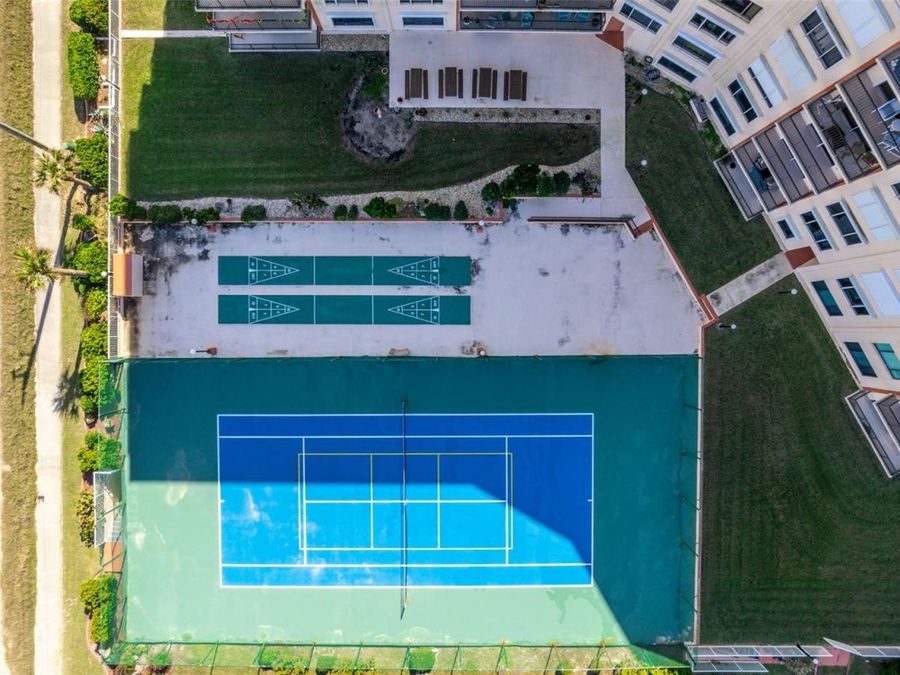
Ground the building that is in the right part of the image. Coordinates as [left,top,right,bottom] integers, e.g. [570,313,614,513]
[190,0,900,487]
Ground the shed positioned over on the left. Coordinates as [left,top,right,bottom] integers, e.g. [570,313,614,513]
[105,251,143,297]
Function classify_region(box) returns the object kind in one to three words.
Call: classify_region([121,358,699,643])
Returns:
tennis court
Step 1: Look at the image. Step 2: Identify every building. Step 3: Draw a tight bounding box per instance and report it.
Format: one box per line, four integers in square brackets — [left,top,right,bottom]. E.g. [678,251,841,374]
[190,0,900,487]
[105,251,143,297]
